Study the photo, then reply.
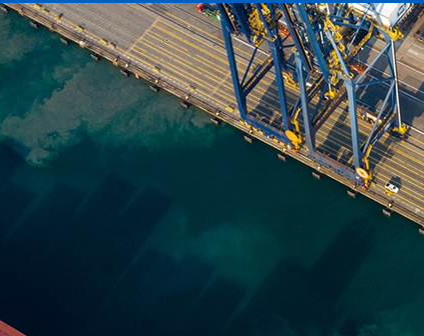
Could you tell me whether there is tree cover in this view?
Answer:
No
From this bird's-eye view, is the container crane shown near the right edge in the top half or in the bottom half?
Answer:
top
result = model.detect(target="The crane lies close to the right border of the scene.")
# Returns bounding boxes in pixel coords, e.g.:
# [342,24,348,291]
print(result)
[273,0,411,185]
